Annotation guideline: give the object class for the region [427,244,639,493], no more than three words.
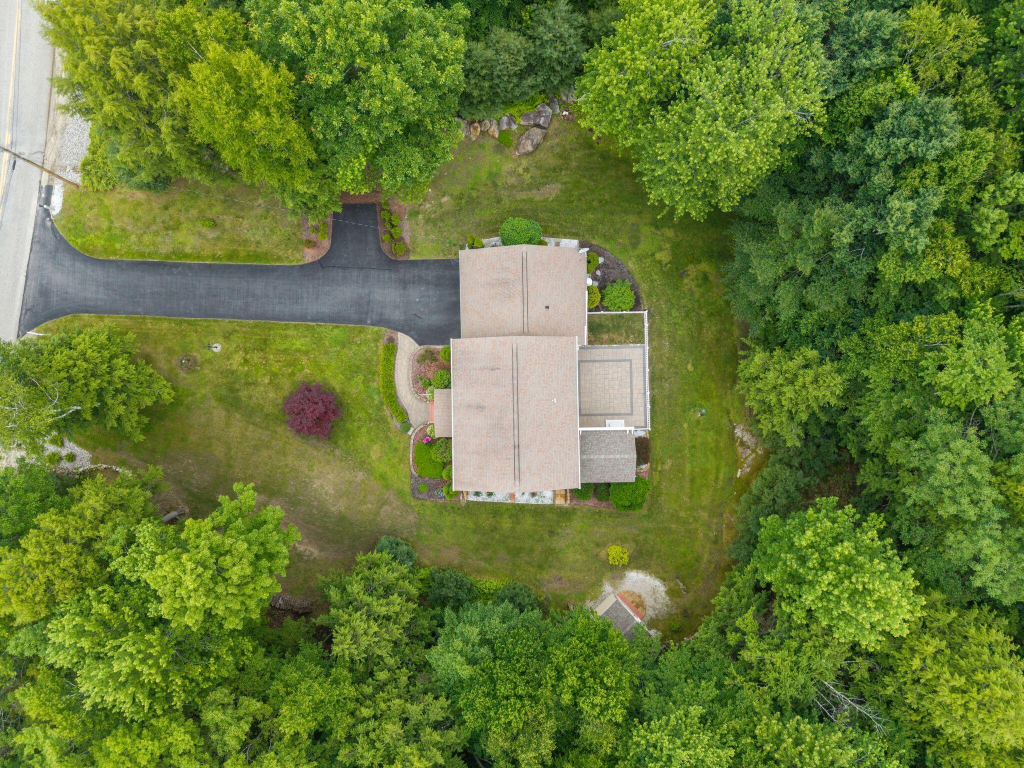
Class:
house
